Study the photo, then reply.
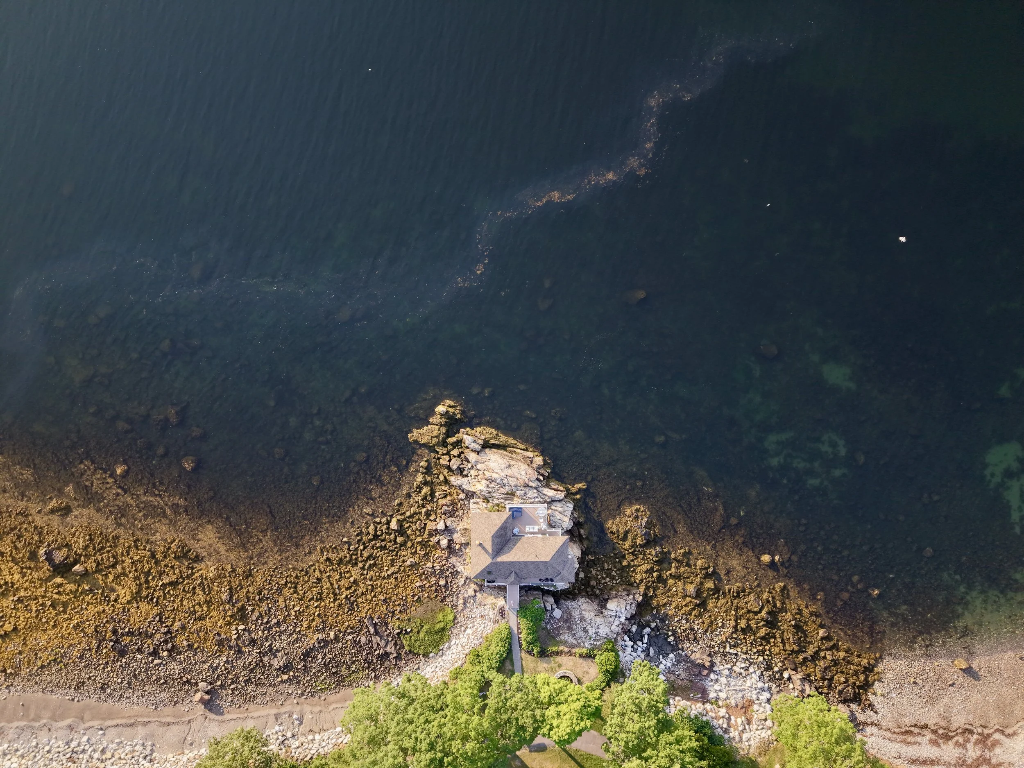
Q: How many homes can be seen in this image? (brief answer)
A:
1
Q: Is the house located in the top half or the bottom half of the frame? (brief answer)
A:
bottom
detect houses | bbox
[470,503,575,586]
